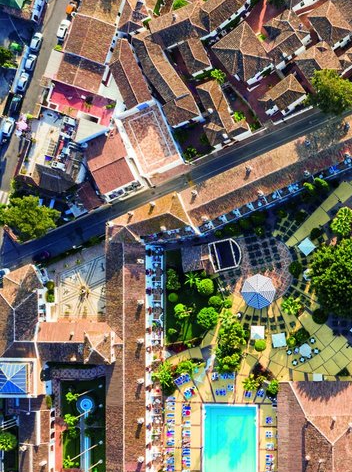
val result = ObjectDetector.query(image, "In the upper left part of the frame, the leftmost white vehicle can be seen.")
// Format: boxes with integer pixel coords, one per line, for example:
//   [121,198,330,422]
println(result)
[1,117,16,137]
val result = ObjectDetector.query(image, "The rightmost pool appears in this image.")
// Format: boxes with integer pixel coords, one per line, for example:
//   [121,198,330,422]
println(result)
[201,404,258,472]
